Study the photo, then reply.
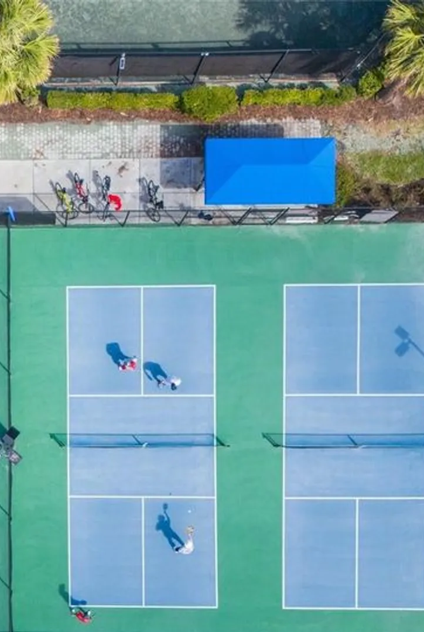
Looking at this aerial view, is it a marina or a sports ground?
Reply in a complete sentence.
The picture captures a sports ground.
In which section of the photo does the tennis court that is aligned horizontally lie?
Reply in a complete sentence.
The tennis court that is aligned horizontally appears toward the top of the photo.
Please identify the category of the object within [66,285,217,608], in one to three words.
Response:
sports court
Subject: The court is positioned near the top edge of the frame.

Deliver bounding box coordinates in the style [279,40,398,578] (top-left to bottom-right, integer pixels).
[32,0,410,82]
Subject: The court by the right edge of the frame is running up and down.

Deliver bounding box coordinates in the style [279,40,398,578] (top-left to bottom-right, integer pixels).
[283,283,424,610]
